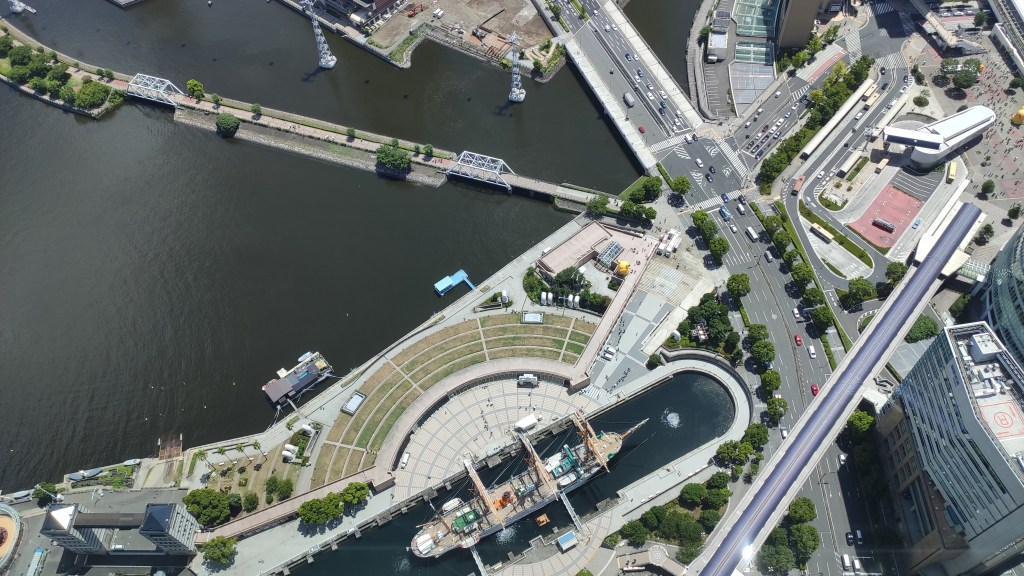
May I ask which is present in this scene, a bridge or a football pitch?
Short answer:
bridge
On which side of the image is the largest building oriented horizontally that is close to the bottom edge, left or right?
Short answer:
left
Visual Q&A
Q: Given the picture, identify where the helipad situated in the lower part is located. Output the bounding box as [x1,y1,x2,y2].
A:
[977,397,1024,447]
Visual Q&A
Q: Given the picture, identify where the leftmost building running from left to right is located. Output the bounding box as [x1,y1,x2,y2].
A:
[39,501,203,571]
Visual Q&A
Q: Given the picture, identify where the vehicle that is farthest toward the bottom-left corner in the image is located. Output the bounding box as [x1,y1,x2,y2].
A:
[22,542,49,576]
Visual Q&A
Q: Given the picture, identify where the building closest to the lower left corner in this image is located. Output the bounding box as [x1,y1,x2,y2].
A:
[0,495,34,566]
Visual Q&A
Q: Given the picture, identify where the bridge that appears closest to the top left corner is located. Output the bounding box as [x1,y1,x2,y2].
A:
[126,72,187,108]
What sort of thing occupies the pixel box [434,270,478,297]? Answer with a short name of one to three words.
pier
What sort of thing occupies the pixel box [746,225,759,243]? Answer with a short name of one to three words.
vehicle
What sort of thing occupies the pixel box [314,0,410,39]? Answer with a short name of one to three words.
building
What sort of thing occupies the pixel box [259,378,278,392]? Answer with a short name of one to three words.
boat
